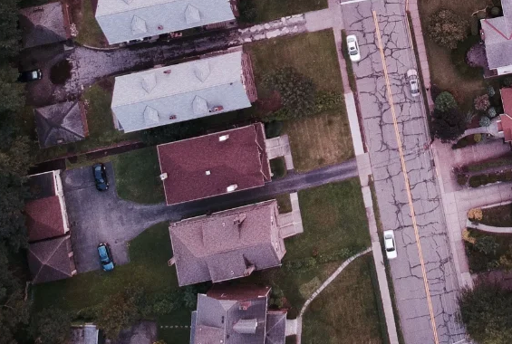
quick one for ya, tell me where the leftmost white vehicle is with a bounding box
[345,33,361,63]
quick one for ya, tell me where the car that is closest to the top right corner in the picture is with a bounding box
[406,68,421,97]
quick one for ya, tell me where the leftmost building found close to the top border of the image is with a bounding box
[19,1,78,49]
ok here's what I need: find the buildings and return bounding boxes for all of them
[24,167,75,242]
[93,0,238,45]
[168,195,303,287]
[19,1,78,49]
[479,0,512,79]
[156,122,294,206]
[30,230,84,285]
[70,320,104,344]
[34,98,95,148]
[190,285,289,344]
[109,46,256,133]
